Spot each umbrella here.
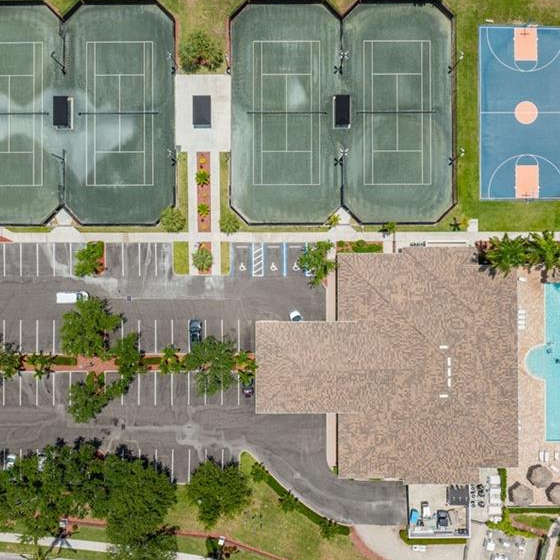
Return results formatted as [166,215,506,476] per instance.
[548,484,560,507]
[509,483,534,507]
[529,465,553,489]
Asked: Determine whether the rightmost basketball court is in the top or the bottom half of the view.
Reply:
top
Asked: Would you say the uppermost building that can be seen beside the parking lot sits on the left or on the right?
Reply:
right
